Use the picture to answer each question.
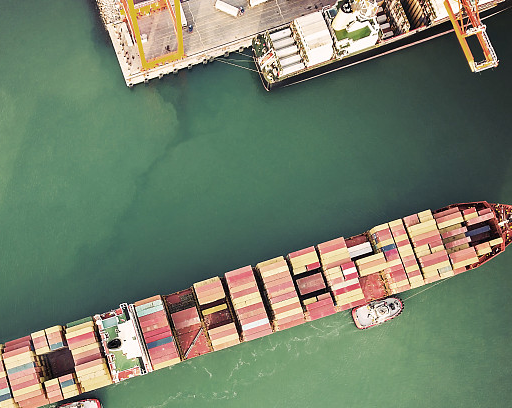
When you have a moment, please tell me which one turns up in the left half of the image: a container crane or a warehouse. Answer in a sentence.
It is a container crane that can be seen in the left half of the image.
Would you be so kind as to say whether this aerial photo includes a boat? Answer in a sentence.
Yes, a boat is visible in the scene.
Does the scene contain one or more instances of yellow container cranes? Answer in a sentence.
Yes, you can see a yellow container crane in this photo.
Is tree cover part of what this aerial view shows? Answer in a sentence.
No, the picture contains no tree cover.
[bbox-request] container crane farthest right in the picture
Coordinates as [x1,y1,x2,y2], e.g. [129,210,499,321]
[442,0,501,74]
